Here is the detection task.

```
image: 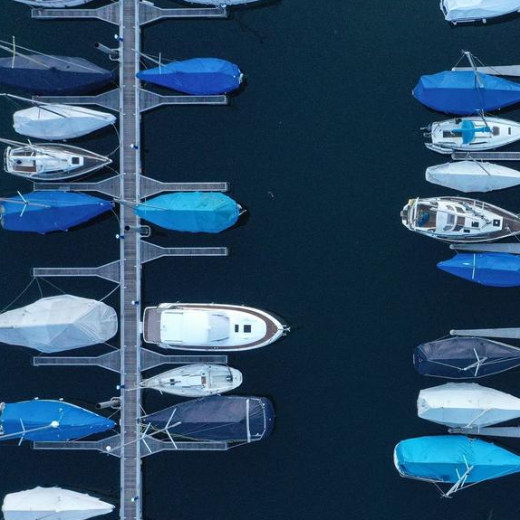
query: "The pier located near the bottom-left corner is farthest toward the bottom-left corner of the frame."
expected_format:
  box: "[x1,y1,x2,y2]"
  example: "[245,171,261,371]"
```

[32,435,120,458]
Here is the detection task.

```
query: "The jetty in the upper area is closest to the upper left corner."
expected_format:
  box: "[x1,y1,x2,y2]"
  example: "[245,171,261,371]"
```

[32,1,120,25]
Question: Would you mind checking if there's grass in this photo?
No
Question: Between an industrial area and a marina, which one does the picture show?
marina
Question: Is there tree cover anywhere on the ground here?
No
